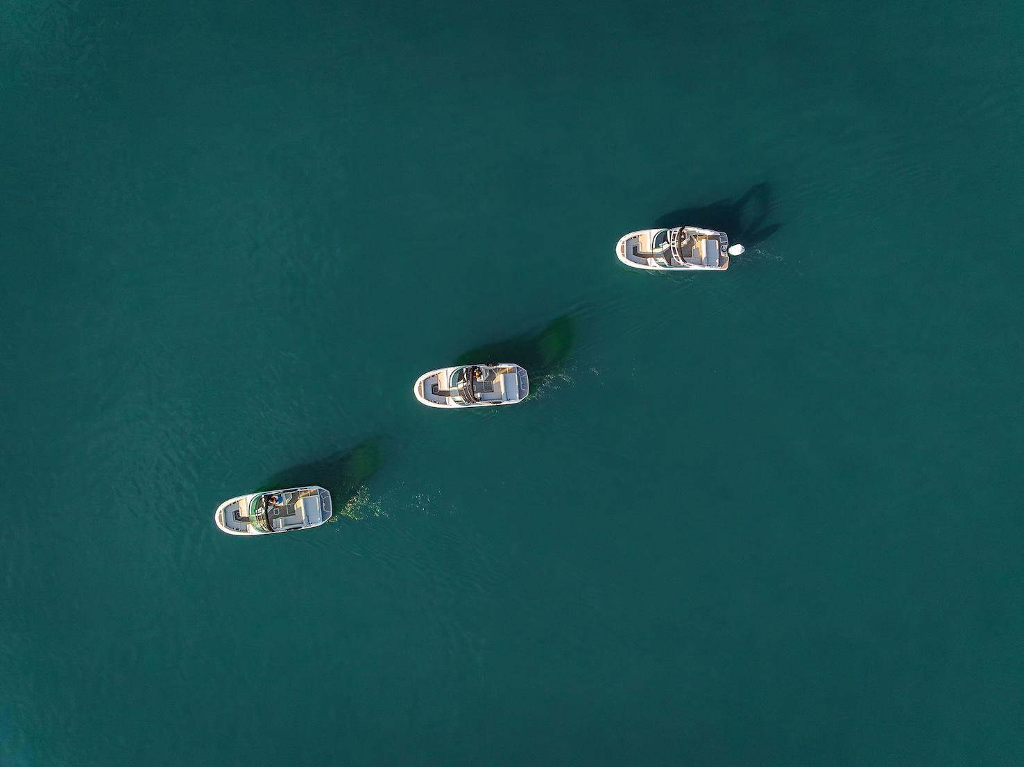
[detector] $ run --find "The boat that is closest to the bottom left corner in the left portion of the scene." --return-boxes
[215,486,332,535]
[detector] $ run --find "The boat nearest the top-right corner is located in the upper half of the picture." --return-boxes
[616,227,745,271]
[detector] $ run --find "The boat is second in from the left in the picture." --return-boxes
[414,358,529,412]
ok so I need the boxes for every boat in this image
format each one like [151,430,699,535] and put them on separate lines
[414,358,529,412]
[215,486,332,535]
[616,227,745,271]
